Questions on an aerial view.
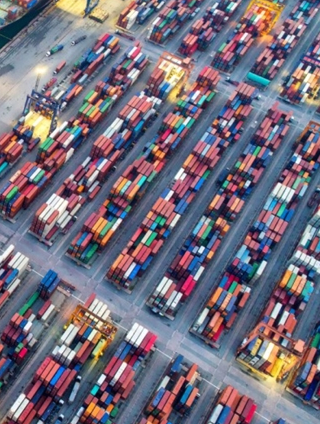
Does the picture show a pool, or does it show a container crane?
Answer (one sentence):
The image shows a container crane.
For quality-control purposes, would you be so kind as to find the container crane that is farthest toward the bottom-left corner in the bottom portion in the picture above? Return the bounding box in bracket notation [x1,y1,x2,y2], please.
[60,300,122,358]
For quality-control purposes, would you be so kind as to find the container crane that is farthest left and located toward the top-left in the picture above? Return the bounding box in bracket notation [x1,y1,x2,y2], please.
[21,88,65,130]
